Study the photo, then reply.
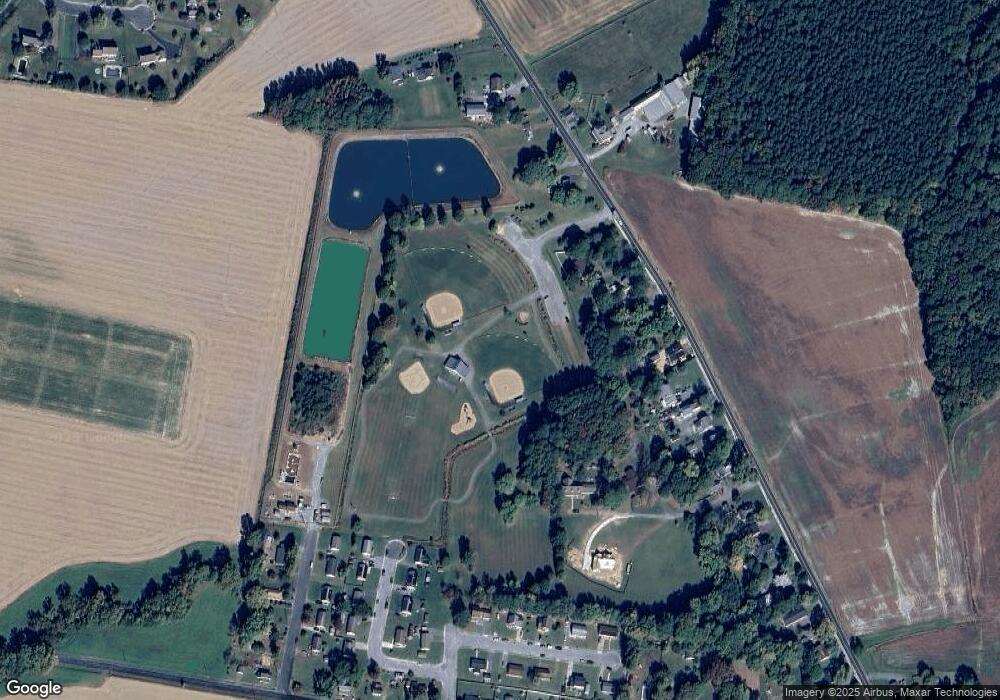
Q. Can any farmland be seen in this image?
Yes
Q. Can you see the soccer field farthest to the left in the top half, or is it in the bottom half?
bottom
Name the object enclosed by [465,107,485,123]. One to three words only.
house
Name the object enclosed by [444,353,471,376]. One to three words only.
building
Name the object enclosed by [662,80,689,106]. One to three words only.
barn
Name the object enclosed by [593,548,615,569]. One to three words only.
house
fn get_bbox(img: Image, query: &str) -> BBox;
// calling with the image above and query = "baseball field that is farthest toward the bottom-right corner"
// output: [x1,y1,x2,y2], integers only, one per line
[472,333,555,405]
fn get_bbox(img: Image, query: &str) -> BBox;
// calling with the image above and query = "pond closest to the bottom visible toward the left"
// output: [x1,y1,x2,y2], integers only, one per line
[304,239,367,361]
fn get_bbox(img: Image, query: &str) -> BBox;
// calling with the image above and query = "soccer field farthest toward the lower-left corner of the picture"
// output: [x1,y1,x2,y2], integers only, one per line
[366,417,435,500]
